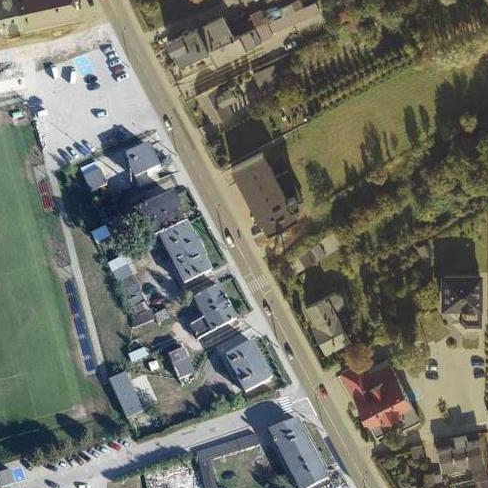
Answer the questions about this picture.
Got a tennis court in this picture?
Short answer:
No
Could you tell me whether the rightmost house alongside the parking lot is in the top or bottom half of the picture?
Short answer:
bottom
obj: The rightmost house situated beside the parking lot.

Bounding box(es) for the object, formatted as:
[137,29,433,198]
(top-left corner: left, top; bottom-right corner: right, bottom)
[340,363,413,431]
